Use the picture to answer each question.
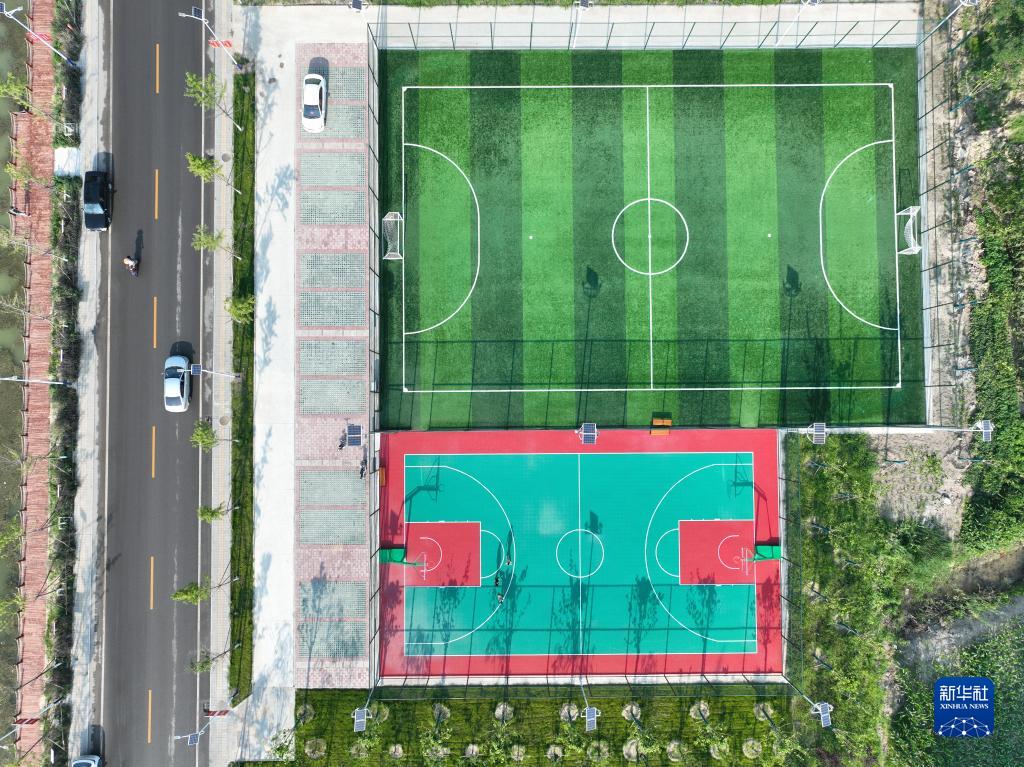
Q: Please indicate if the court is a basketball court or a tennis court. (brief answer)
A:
basketball court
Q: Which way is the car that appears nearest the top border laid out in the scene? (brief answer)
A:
vertically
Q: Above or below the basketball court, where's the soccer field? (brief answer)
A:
above it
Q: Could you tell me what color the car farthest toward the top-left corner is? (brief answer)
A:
black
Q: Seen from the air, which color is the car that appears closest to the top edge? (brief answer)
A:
white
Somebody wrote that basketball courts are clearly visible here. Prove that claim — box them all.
[380,431,785,677]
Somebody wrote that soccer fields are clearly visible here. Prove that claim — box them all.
[379,47,926,429]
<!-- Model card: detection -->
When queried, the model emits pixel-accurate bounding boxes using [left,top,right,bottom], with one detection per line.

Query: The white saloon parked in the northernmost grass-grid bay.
[301,74,328,135]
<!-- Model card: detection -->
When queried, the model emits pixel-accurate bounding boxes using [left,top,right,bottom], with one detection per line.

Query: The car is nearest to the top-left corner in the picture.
[83,171,115,232]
